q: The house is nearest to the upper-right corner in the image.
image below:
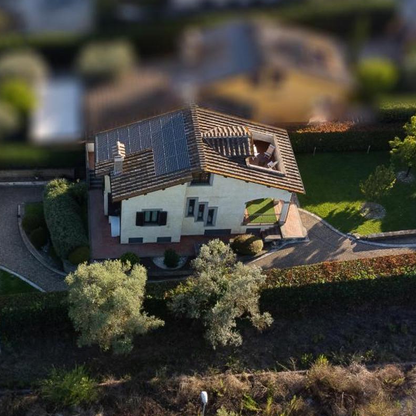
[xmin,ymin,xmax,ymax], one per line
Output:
[174,19,357,125]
